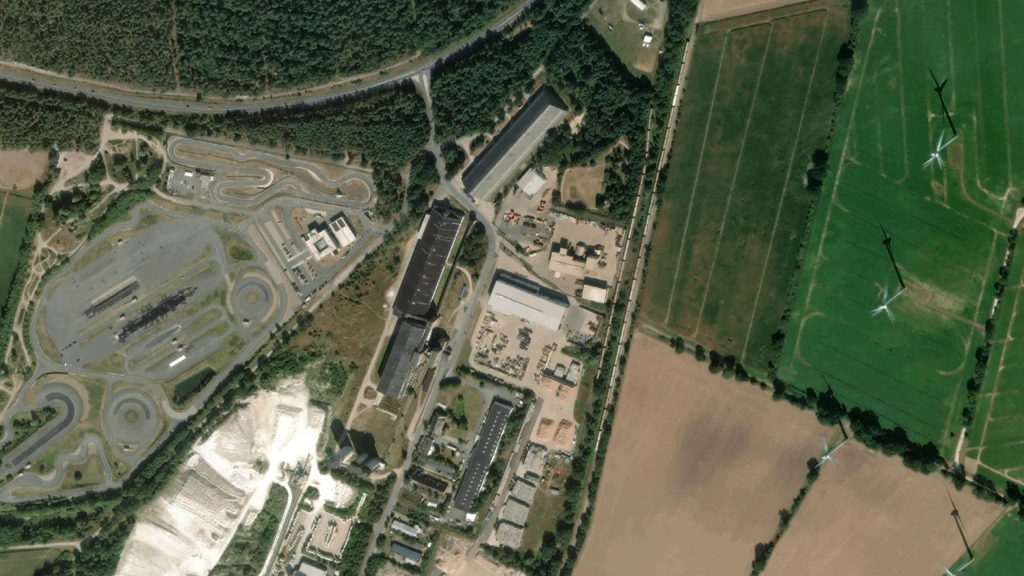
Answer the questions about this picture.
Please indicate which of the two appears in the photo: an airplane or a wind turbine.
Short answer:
wind turbine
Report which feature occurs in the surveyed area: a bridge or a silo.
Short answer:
silo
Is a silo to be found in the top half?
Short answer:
No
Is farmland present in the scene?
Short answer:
Yes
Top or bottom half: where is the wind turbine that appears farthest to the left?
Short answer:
bottom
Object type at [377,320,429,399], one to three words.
building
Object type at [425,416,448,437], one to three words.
house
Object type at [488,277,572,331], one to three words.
building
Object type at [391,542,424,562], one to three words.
barn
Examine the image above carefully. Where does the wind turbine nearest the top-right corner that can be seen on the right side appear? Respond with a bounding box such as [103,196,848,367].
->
[933,130,959,165]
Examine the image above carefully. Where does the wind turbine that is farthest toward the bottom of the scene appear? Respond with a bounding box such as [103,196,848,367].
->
[945,555,977,576]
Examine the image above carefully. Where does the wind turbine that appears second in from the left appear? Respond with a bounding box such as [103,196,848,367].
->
[881,285,908,324]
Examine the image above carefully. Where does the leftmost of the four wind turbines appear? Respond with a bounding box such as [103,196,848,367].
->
[825,435,851,470]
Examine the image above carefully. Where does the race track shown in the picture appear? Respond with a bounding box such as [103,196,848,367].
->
[164,133,379,211]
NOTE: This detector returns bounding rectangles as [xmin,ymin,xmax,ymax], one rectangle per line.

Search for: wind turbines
[933,130,959,165]
[945,555,977,576]
[881,285,908,324]
[825,435,851,470]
